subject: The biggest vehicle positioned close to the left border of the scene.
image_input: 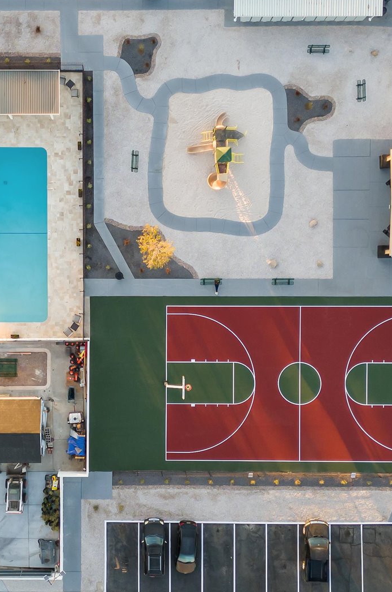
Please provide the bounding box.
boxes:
[3,465,28,515]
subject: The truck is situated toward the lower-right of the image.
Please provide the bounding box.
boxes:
[302,518,332,584]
